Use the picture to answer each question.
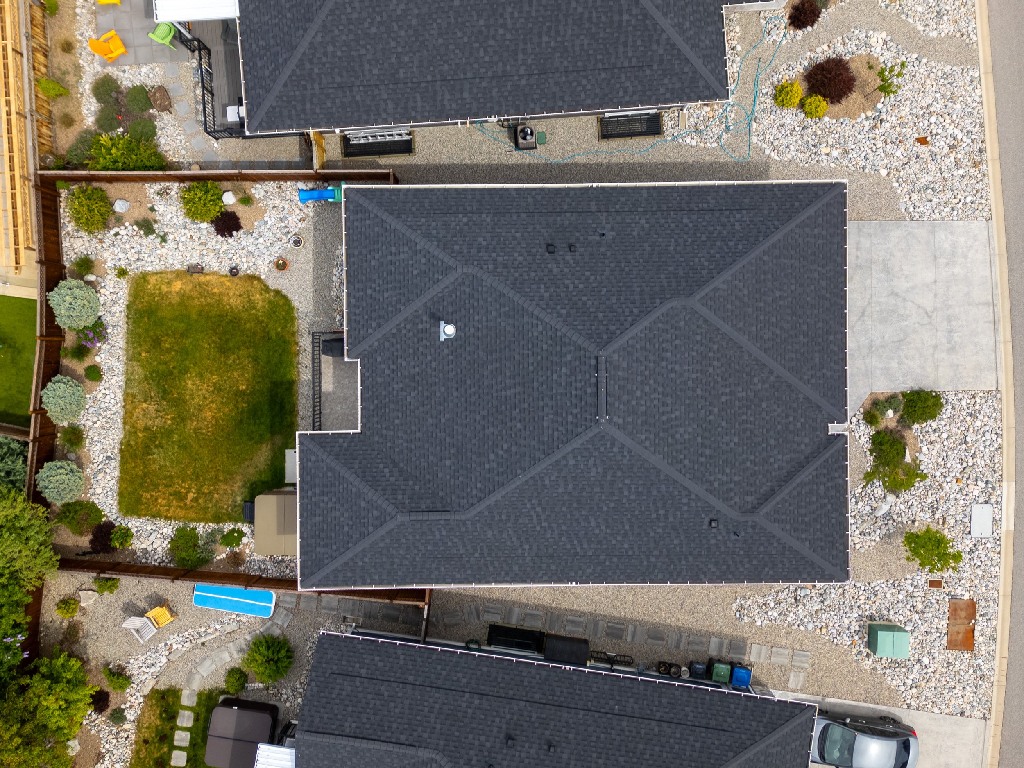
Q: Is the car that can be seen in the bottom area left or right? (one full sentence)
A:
The car that can be seen in the bottom area sits on the right side.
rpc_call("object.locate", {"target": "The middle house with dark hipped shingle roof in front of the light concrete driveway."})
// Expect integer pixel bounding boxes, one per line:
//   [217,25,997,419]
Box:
[296,179,851,592]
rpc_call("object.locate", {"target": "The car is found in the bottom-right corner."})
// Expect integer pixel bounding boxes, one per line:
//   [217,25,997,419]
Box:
[814,707,922,768]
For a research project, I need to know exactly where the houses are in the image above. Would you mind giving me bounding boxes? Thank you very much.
[293,618,822,768]
[296,179,851,592]
[235,0,777,145]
